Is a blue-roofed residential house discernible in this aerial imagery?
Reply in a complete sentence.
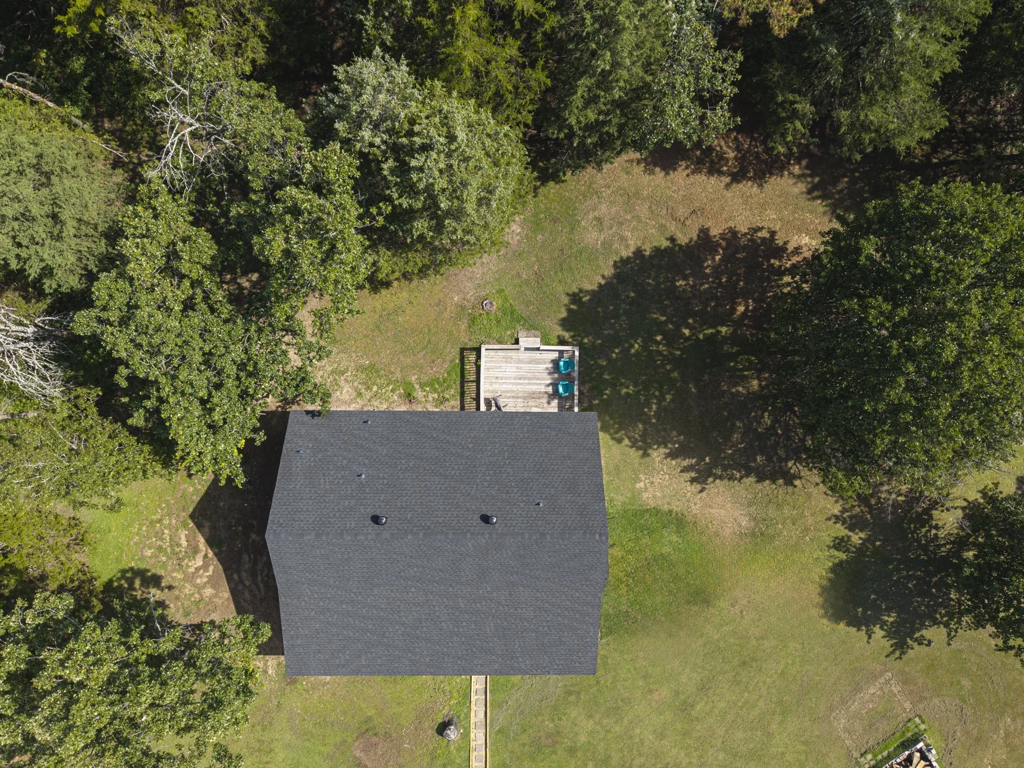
No, there isn't any blue-roofed residential house down there.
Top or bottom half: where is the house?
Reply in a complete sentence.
You can find the house in the bottom half.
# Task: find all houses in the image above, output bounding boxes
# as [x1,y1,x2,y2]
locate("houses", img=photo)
[265,411,609,675]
